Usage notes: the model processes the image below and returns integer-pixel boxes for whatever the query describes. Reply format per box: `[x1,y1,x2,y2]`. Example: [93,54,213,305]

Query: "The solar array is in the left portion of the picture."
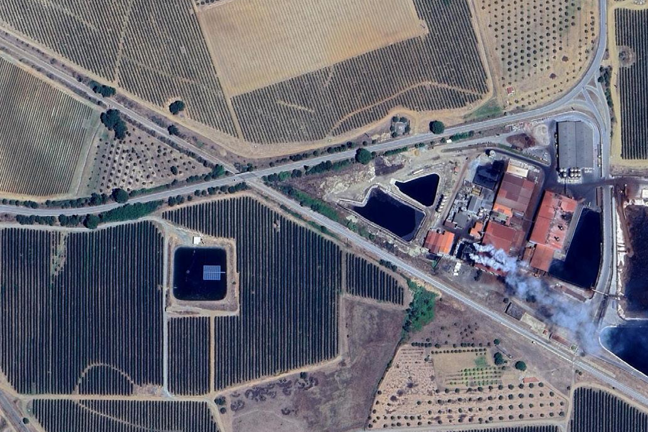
[203,266,226,280]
